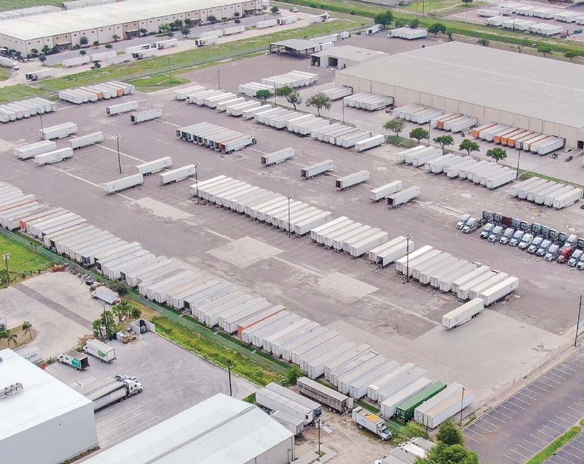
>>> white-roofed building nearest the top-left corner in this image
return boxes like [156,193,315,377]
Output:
[0,0,262,57]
